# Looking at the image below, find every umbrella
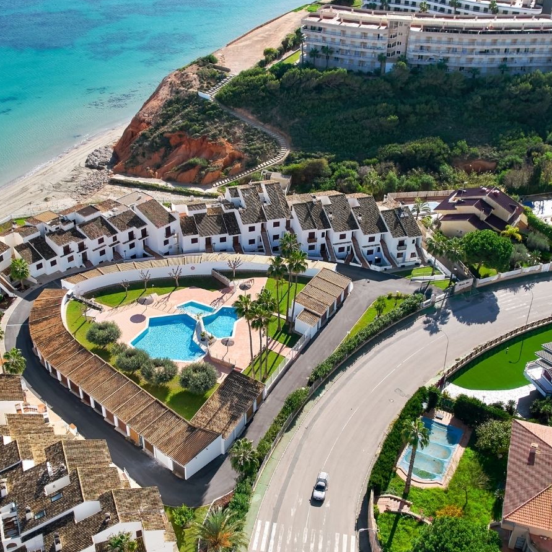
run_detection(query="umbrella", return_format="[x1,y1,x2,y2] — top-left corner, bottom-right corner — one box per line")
[213,342,234,359]
[236,281,255,293]
[132,297,151,315]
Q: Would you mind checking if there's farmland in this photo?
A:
No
